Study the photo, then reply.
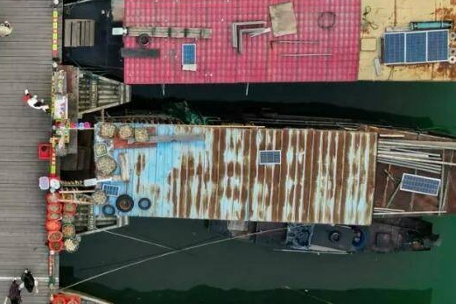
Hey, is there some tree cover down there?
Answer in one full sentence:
No, tree cover can't be seen anywhere here.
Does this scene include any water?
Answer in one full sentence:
Yes, water shows up in the scene.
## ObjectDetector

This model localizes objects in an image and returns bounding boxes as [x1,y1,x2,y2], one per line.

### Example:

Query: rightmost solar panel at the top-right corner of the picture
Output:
[382,28,450,66]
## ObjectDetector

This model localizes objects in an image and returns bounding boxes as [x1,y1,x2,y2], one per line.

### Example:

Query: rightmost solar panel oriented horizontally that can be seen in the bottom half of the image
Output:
[399,172,442,196]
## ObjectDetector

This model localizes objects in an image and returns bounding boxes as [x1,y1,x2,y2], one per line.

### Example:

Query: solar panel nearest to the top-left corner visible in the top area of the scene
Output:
[181,43,196,66]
